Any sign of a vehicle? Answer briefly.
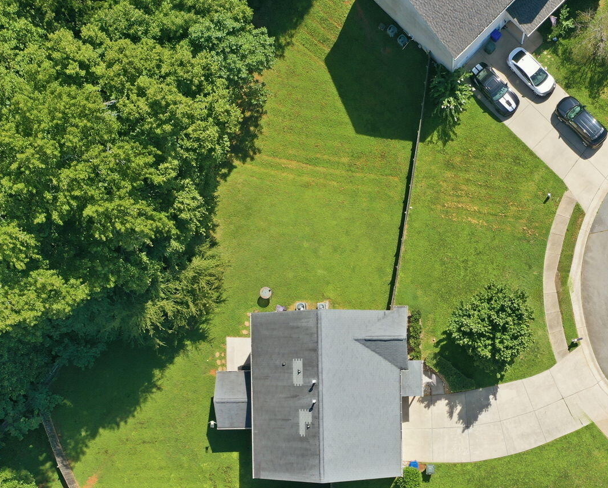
Yes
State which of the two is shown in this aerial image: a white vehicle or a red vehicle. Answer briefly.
white vehicle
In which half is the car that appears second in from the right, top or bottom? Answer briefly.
top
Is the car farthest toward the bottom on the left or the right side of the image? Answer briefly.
right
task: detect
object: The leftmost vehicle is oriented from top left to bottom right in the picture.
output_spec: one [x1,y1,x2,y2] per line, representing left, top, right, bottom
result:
[468,59,520,120]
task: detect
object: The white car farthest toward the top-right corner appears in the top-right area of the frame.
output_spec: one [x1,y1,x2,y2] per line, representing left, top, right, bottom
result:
[508,42,558,100]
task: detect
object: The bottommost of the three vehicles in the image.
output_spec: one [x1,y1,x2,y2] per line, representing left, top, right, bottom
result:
[556,92,608,153]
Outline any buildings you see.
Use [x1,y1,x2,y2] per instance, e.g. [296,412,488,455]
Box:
[213,304,425,482]
[375,0,562,72]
